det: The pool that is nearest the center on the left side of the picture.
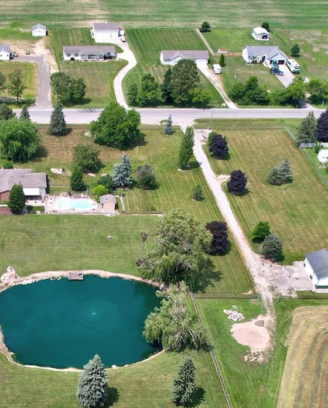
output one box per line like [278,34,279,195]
[43,195,103,211]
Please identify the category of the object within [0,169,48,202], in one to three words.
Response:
house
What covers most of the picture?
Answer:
grass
